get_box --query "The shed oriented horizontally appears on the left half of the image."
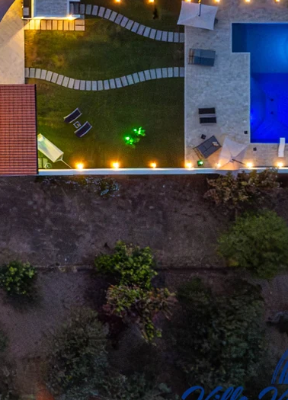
[30,0,80,21]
